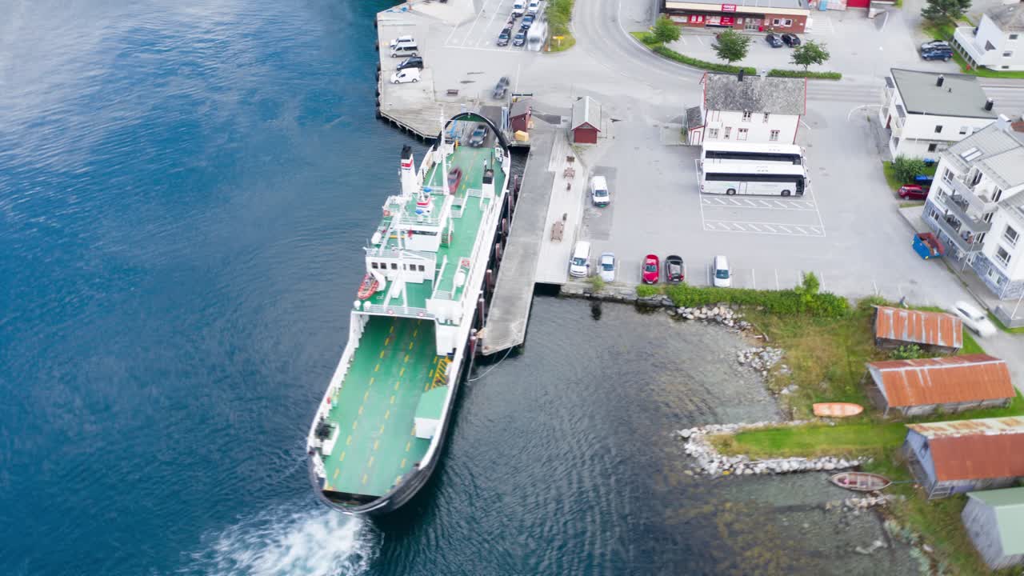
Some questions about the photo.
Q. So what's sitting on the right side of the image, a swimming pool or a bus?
bus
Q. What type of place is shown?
port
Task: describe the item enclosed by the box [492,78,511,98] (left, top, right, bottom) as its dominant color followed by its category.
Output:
gray car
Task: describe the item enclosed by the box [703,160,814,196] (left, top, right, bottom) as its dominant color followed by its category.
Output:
white bus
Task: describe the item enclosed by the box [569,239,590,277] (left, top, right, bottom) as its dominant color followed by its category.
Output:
white vehicle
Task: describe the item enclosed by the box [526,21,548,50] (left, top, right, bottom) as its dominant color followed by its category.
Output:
white camper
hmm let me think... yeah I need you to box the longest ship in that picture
[308,105,509,522]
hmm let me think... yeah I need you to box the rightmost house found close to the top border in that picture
[941,2,1024,68]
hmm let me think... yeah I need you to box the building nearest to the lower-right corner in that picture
[960,486,1024,564]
